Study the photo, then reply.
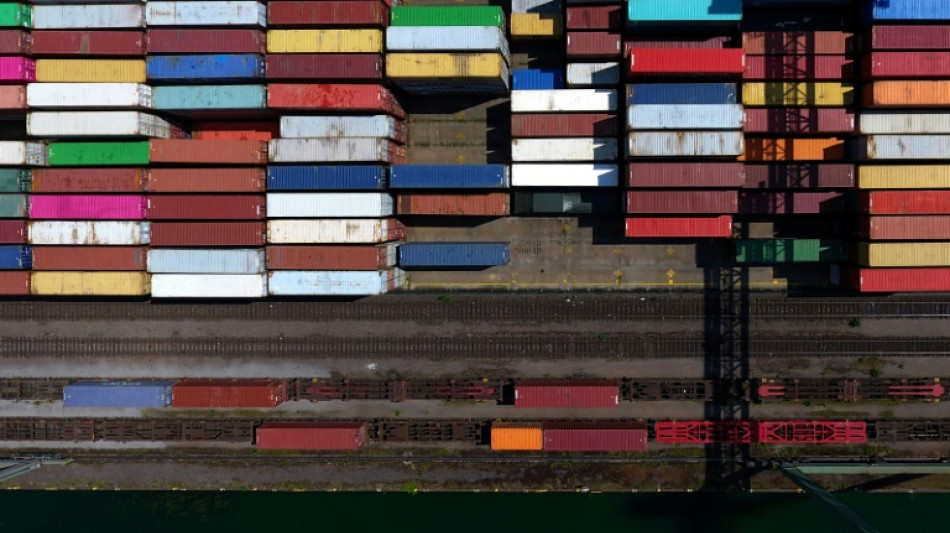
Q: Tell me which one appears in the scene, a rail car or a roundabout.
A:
rail car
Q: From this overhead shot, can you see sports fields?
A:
No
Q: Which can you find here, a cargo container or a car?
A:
cargo container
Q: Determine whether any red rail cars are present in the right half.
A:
Yes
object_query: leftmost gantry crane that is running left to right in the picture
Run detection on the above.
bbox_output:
[0,451,65,482]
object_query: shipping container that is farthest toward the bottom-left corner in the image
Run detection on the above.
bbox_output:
[62,382,177,407]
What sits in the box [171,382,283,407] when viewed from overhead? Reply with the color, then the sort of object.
red shipping container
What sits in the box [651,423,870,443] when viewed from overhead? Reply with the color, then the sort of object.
red rail car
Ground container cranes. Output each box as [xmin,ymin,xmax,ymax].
[0,451,65,482]
[760,451,950,533]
